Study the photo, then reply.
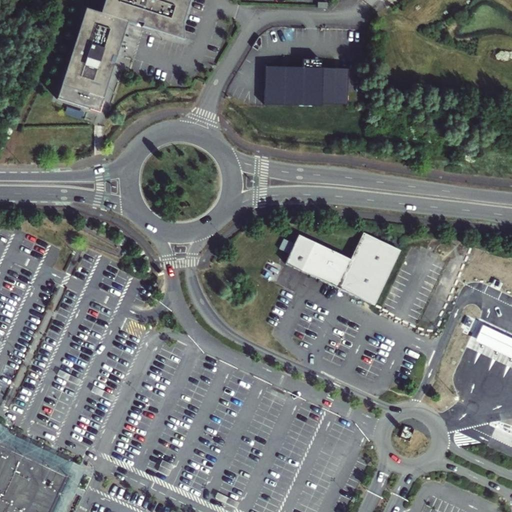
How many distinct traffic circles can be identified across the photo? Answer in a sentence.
The count of traffic circles comes to 2.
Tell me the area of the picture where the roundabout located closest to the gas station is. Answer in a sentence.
Look in the bottom right portion of the view to spot the roundabout located closest to the gas station.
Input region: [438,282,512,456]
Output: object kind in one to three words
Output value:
gas station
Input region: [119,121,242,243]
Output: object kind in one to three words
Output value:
roundabout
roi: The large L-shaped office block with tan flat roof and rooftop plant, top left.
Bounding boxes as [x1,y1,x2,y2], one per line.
[57,0,195,110]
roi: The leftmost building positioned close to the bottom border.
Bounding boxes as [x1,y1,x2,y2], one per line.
[0,426,86,512]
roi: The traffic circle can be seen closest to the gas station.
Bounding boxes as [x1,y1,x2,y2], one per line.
[374,401,448,476]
